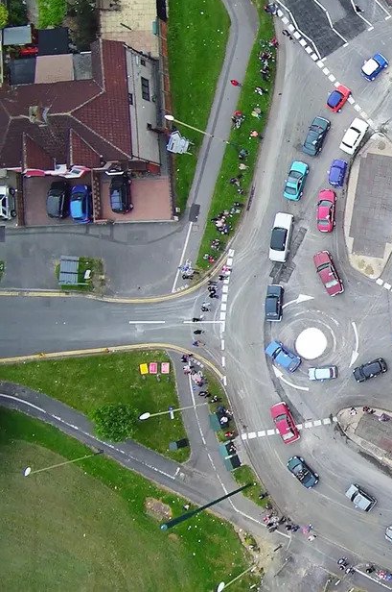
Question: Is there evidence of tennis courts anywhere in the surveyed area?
No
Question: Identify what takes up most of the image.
paved ground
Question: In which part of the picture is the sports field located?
bottom left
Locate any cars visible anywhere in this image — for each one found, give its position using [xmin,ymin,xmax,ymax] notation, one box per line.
[265,285,284,322]
[309,365,339,382]
[338,116,370,156]
[0,184,12,222]
[360,53,390,82]
[300,116,331,157]
[270,400,301,447]
[287,453,320,491]
[266,341,302,375]
[283,161,308,202]
[46,183,71,219]
[266,213,296,264]
[354,357,390,383]
[345,484,378,513]
[310,250,345,299]
[108,178,133,215]
[328,159,349,189]
[325,84,352,113]
[68,186,89,223]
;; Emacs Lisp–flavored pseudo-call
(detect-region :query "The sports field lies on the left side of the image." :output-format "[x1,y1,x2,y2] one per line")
[0,437,189,592]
